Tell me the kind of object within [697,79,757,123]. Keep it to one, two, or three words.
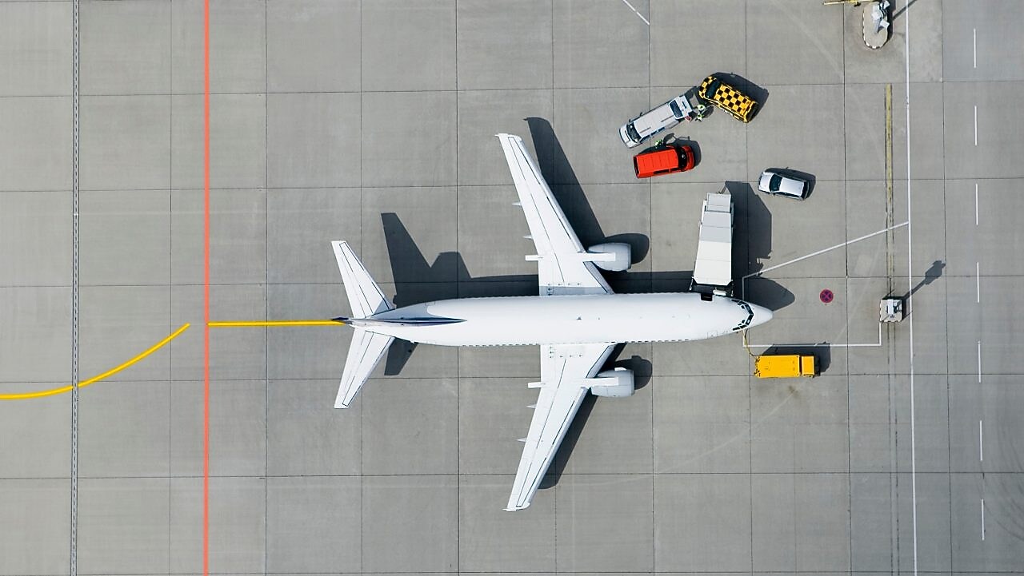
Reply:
car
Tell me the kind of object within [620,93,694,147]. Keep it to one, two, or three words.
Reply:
van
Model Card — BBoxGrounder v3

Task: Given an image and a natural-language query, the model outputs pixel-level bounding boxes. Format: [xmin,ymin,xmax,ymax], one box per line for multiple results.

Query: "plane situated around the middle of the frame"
[332,133,773,510]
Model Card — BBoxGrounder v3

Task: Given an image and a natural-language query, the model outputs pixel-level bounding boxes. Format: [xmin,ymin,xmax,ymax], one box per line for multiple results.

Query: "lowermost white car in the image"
[757,170,810,201]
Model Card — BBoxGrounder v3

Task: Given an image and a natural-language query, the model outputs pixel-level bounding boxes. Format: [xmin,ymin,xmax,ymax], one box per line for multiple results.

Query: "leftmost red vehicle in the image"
[633,145,696,180]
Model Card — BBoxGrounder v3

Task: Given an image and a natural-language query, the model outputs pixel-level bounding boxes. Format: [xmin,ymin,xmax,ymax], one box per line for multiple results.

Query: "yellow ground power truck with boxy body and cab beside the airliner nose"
[753,352,822,380]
